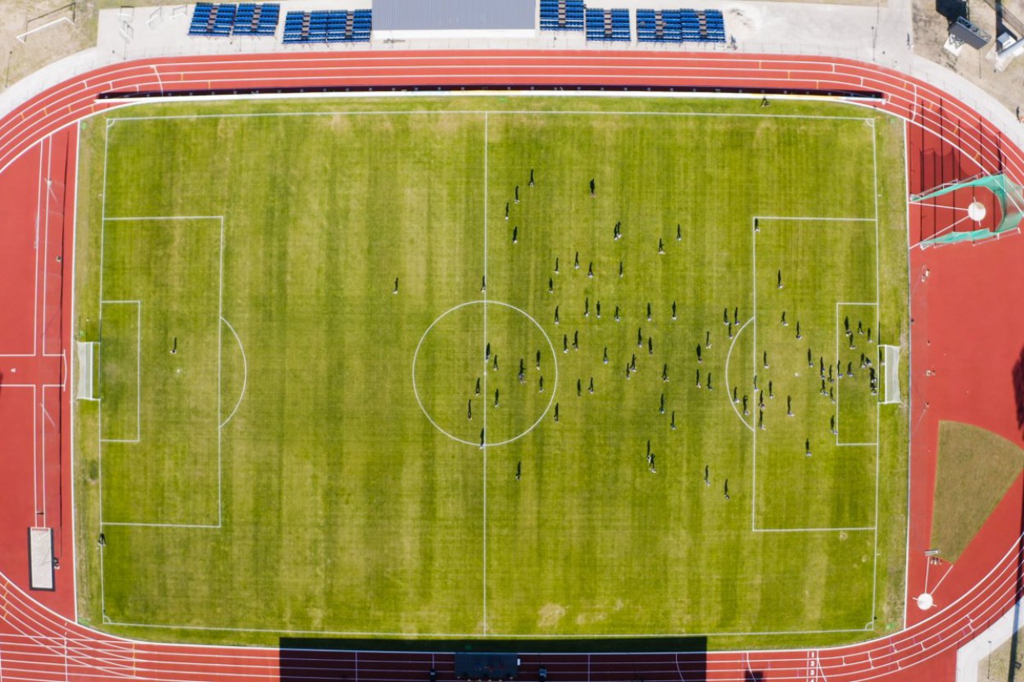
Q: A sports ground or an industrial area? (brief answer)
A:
sports ground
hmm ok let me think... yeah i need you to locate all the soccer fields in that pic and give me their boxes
[71,95,911,653]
